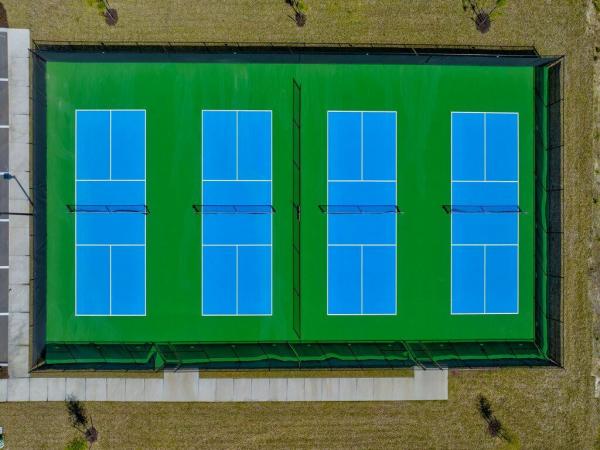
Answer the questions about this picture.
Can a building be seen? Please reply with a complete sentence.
No, I can see no building in this picture.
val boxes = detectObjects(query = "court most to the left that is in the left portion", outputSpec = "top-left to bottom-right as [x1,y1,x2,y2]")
[74,109,146,316]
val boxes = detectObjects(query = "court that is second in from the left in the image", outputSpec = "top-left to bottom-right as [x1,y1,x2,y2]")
[202,110,272,316]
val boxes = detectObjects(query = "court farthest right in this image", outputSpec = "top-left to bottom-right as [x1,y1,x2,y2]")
[451,111,520,315]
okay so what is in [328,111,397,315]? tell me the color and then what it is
blue sports court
